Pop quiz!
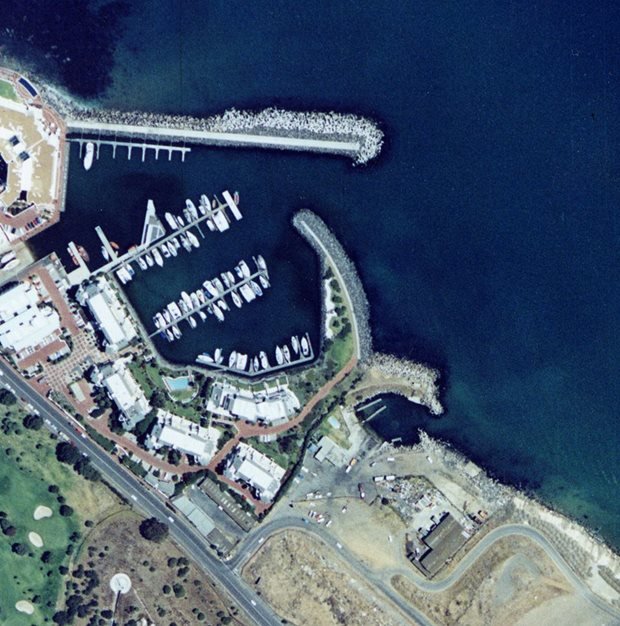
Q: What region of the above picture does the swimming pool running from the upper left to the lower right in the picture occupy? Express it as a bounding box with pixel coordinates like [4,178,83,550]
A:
[17,76,38,98]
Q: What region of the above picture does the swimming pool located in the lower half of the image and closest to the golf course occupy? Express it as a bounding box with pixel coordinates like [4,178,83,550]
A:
[165,377,189,391]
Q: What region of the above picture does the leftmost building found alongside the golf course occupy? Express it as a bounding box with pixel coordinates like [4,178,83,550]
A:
[0,281,59,356]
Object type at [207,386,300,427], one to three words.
building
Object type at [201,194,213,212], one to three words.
boat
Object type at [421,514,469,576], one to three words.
building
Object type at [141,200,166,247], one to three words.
pier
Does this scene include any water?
Yes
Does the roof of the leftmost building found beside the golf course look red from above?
No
